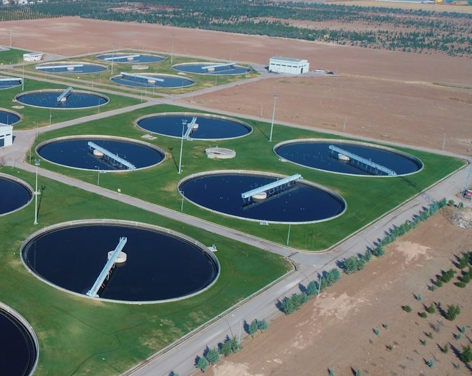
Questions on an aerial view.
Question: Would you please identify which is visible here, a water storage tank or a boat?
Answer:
water storage tank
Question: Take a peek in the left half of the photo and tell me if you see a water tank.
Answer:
Yes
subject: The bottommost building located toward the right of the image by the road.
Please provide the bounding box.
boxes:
[267,56,307,75]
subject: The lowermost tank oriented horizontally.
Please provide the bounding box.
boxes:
[21,221,220,308]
